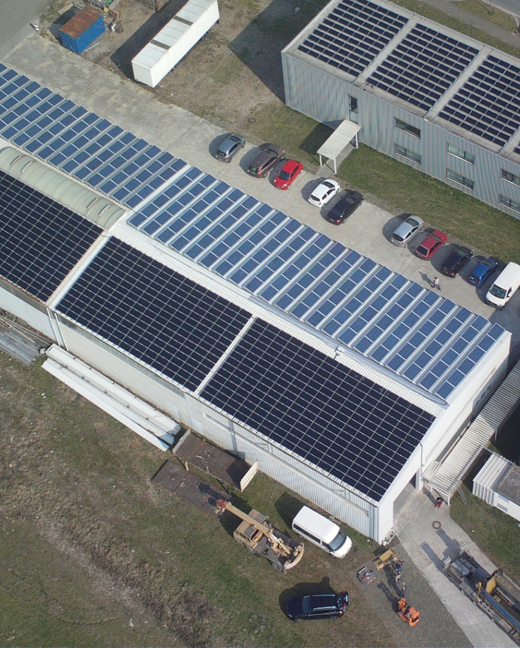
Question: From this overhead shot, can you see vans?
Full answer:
Yes, there's a van here.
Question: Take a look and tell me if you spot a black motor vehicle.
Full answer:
Yes, a black motor vehicle is visible in the scene.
